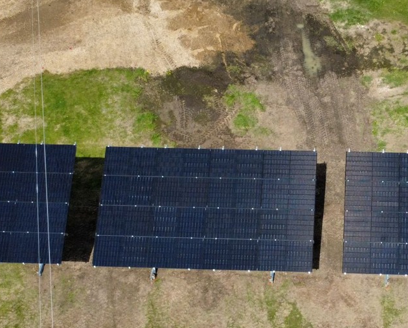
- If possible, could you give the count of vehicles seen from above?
0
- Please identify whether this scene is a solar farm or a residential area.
solar farm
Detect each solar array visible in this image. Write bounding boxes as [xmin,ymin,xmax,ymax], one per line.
[93,143,317,283]
[0,140,76,276]
[343,148,408,288]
